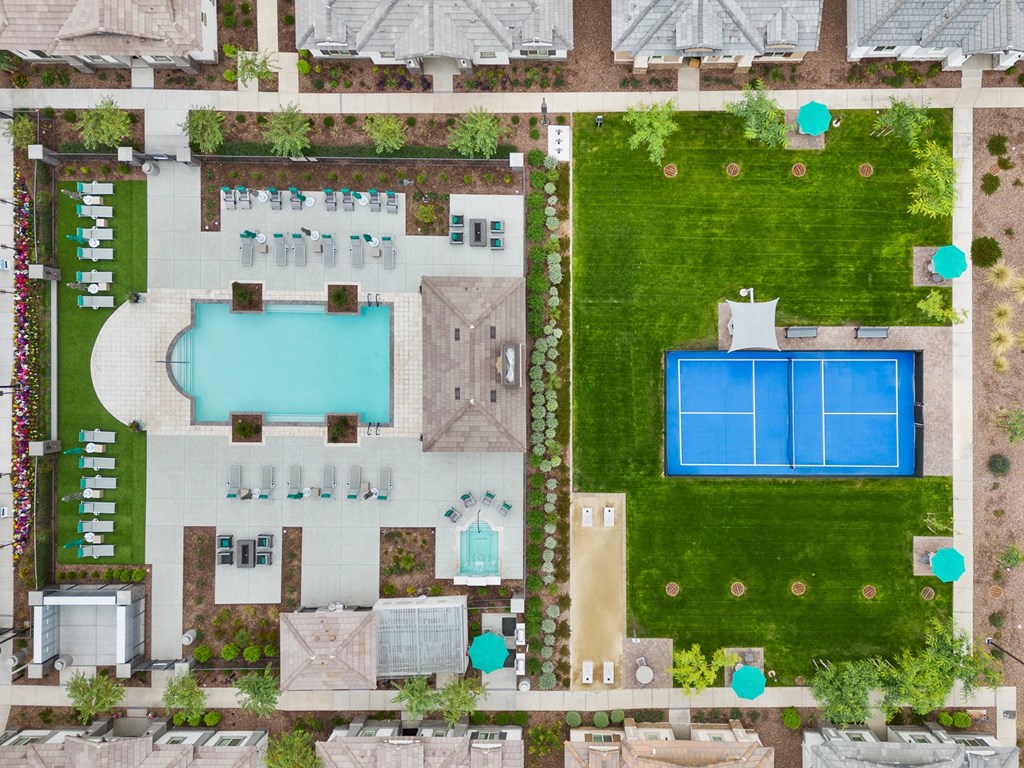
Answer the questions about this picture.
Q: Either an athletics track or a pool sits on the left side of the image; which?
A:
pool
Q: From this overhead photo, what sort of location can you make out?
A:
residential area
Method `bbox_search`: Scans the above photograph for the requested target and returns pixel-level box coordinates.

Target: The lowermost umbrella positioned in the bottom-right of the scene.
[730,662,766,701]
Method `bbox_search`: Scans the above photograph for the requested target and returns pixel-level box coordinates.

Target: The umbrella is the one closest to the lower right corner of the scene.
[920,547,964,581]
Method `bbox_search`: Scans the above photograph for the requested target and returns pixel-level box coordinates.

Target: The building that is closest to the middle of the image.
[419,274,528,454]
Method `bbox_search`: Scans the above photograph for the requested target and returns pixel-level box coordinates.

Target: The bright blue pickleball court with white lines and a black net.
[667,350,916,476]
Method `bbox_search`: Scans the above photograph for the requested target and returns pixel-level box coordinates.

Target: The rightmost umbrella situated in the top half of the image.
[921,244,967,280]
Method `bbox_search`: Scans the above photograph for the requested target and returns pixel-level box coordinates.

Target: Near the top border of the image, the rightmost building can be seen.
[847,0,1024,71]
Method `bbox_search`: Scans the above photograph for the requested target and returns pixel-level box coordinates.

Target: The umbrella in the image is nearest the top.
[793,102,830,137]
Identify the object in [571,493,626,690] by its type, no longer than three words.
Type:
sports court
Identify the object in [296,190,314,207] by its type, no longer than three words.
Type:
umbrella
